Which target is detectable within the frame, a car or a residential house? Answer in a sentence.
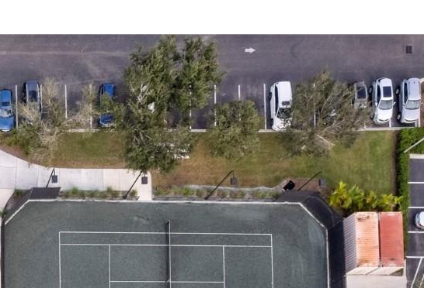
Visible in the photo is a car.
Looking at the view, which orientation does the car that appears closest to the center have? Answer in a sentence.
In this picture, the car that appears closest to the center is oriented from top to bottom.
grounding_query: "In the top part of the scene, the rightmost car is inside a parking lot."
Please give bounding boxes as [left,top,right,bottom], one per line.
[397,77,423,123]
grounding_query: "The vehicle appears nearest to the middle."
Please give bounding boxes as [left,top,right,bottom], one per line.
[272,81,294,128]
